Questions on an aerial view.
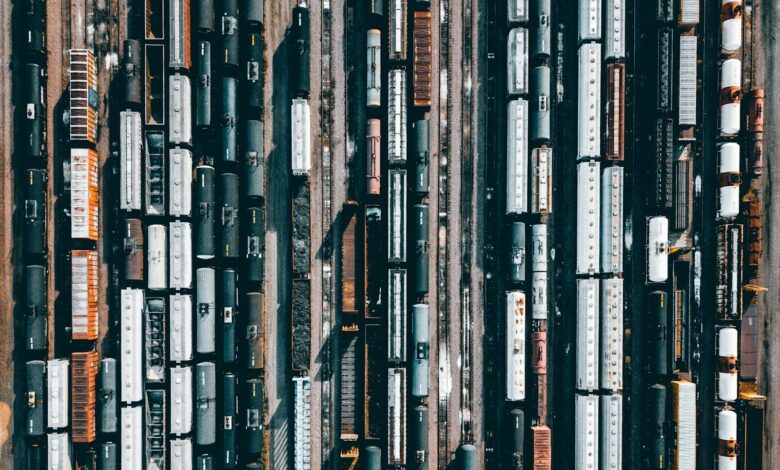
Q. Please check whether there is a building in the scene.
No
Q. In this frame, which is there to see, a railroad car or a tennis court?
railroad car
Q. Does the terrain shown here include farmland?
No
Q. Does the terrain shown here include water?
No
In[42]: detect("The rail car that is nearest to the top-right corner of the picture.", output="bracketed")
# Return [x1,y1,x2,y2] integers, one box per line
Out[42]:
[720,0,746,57]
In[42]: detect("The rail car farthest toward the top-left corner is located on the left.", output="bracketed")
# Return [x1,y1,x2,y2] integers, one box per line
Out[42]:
[21,0,45,59]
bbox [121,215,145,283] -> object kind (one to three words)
rail car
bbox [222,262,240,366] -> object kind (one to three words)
rail car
